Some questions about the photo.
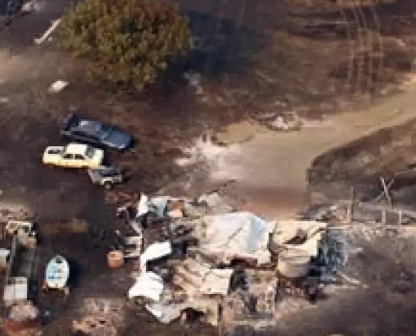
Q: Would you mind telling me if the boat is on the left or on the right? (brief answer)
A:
left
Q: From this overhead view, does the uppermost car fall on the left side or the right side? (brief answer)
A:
left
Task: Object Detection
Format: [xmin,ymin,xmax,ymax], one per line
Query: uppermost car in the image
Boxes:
[64,115,132,153]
